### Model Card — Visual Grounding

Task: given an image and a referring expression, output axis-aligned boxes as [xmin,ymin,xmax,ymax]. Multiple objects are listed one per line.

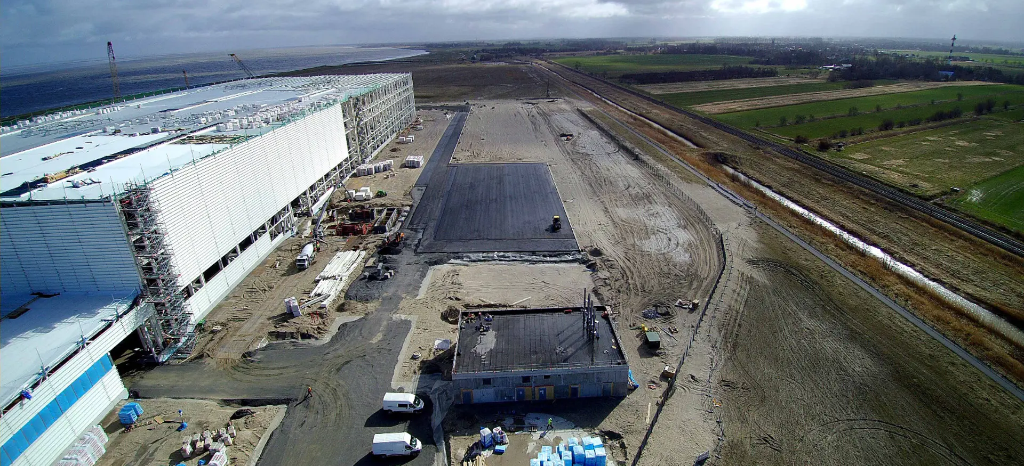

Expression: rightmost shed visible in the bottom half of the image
[640,329,665,352]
